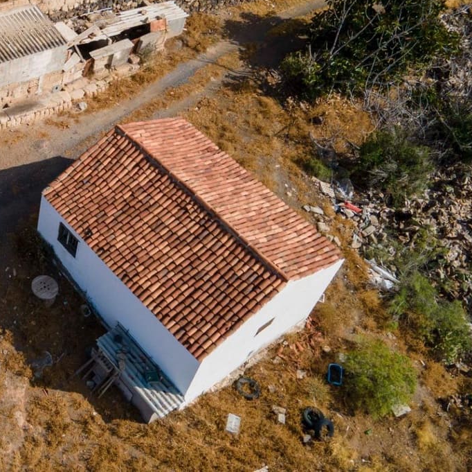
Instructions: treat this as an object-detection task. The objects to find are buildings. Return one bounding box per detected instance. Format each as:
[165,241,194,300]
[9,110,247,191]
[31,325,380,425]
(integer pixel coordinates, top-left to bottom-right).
[0,1,74,106]
[36,116,348,405]
[65,0,196,80]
